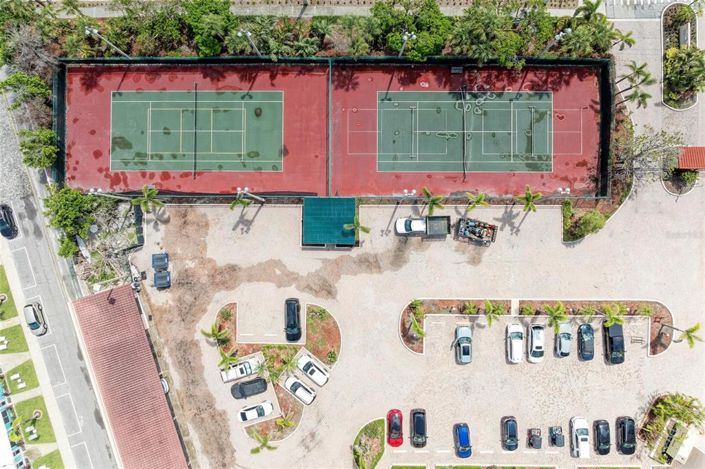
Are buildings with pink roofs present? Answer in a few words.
Yes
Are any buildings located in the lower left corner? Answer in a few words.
Yes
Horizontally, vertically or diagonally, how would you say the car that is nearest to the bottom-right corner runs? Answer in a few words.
vertically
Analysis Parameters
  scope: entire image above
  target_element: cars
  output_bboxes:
[0,203,18,241]
[237,399,276,422]
[283,298,302,342]
[569,415,590,459]
[386,408,404,447]
[230,376,269,399]
[501,415,519,450]
[592,418,612,455]
[527,322,547,363]
[453,420,472,458]
[506,322,525,363]
[283,373,317,406]
[23,300,49,338]
[296,354,330,386]
[450,324,472,364]
[554,322,573,360]
[410,408,428,448]
[576,322,595,360]
[615,415,637,456]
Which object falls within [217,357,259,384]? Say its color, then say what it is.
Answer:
white truck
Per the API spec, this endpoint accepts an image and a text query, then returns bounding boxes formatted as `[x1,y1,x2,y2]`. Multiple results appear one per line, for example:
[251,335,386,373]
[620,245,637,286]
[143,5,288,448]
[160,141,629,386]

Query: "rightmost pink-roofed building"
[71,282,193,469]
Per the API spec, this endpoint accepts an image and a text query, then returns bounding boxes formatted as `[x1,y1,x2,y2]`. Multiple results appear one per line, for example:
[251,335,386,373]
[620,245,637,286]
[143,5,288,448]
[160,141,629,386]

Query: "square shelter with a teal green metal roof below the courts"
[302,197,356,246]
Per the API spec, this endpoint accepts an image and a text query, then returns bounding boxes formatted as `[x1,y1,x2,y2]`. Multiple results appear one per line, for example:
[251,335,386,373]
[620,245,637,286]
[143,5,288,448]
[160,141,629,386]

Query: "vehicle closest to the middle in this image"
[394,216,451,238]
